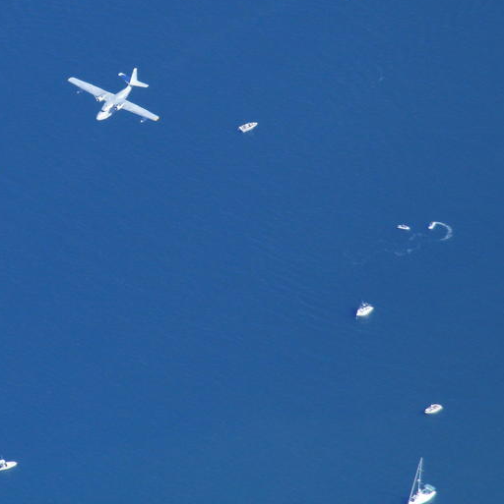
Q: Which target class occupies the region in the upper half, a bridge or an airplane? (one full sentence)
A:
It is an airplane that can be seen in the upper half.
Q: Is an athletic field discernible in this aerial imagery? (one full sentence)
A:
No, the picture doesn't show any athletic field.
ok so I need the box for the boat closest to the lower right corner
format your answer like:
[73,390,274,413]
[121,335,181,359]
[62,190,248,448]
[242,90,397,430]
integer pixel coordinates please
[407,458,437,504]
